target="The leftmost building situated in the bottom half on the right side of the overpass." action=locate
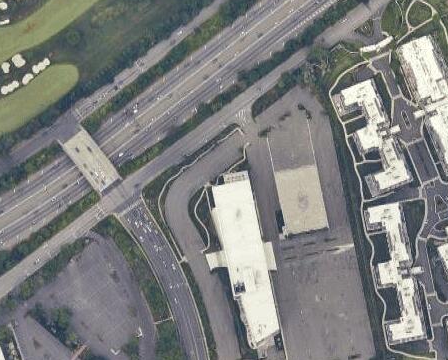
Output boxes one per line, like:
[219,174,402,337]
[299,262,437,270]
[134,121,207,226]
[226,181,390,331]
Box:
[206,170,280,359]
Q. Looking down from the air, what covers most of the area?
paved ground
